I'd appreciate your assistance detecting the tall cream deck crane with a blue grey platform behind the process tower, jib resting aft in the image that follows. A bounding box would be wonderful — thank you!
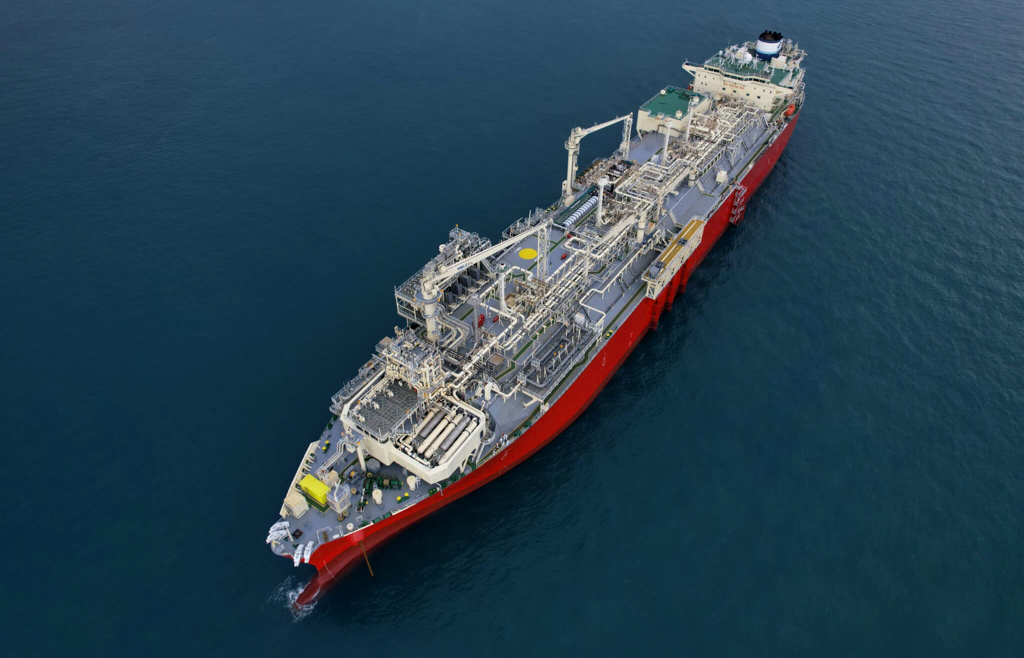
[407,215,553,329]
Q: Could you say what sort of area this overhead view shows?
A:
port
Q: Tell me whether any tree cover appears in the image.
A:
No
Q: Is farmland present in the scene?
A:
No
